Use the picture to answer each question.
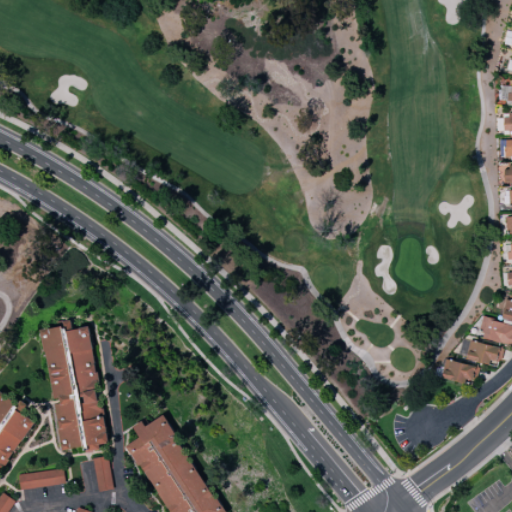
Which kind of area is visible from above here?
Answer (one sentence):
It's a golf course.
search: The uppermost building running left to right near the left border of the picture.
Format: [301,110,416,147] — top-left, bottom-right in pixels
[19,470,66,490]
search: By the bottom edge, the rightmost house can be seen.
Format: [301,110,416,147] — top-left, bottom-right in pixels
[128,416,224,512]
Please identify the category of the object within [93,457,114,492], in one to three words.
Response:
building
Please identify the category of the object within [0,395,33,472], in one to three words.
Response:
house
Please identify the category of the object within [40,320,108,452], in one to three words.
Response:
house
